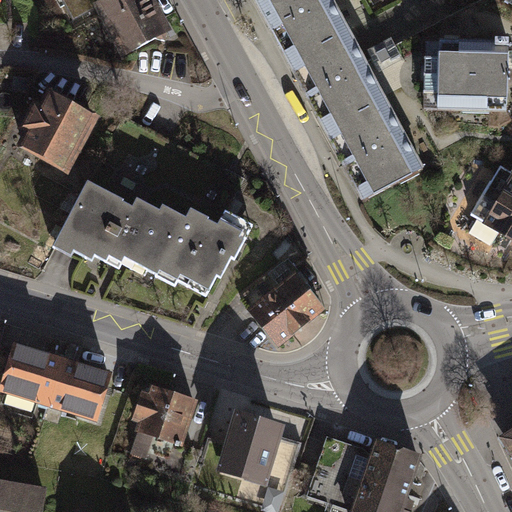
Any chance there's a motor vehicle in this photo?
Yes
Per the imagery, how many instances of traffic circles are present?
1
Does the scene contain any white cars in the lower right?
Yes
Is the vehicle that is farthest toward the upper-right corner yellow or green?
yellow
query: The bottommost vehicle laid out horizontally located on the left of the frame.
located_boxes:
[84,351,105,364]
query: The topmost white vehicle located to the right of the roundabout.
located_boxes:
[476,308,496,321]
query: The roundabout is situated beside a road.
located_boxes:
[326,290,468,431]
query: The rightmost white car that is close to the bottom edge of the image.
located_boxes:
[494,467,511,490]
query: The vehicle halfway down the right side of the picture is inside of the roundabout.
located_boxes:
[410,301,432,316]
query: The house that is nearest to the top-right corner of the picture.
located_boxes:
[424,36,510,114]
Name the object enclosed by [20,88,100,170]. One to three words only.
house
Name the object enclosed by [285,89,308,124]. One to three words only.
vehicle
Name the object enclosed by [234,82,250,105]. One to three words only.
car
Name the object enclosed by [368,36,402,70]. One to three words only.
building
